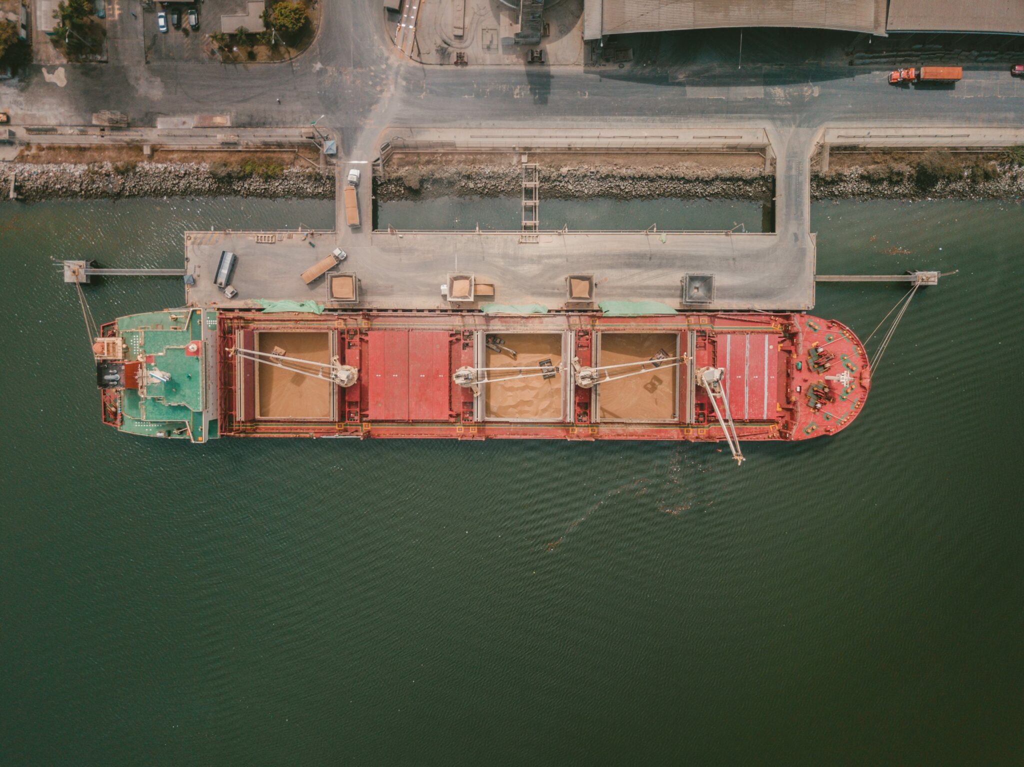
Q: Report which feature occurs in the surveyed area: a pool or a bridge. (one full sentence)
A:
The one in the frame is a bridge.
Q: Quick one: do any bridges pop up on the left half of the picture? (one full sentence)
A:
Yes, a bridge appears on the left half of the picture.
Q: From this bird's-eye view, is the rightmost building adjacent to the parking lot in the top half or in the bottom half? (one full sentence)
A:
The rightmost building adjacent to the parking lot is in the top half of the image.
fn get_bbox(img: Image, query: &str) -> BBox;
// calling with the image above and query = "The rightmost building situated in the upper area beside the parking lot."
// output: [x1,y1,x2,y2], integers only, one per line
[221,0,270,39]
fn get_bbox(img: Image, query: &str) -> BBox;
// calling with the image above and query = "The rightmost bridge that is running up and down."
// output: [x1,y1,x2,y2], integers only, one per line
[773,158,811,234]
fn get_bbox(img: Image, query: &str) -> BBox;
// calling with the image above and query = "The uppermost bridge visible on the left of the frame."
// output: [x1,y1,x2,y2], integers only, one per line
[336,161,373,234]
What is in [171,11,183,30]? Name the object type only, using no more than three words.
vehicle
